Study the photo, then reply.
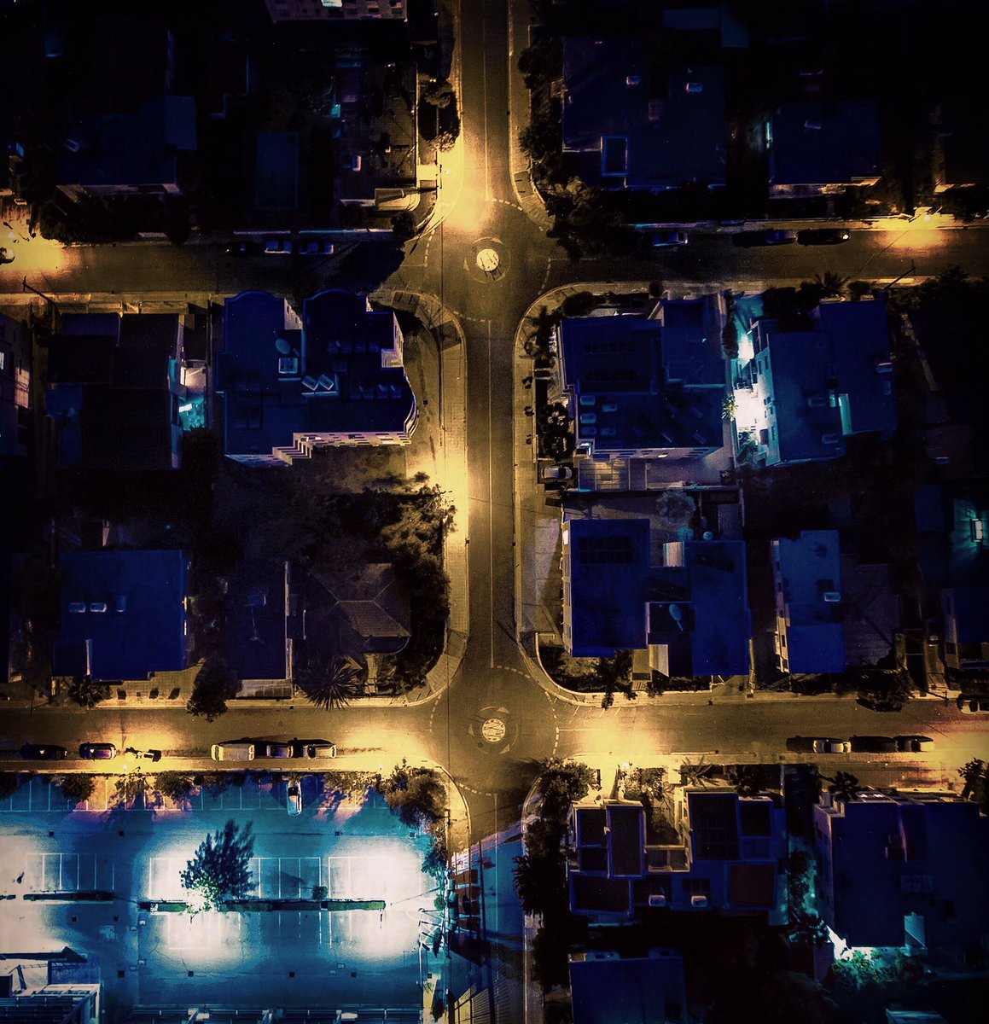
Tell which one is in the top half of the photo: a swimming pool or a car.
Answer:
car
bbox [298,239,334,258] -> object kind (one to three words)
car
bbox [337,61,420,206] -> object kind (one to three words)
house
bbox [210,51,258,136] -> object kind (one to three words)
house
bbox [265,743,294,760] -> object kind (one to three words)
car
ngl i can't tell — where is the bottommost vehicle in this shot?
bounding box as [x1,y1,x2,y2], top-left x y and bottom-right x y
[285,780,303,816]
